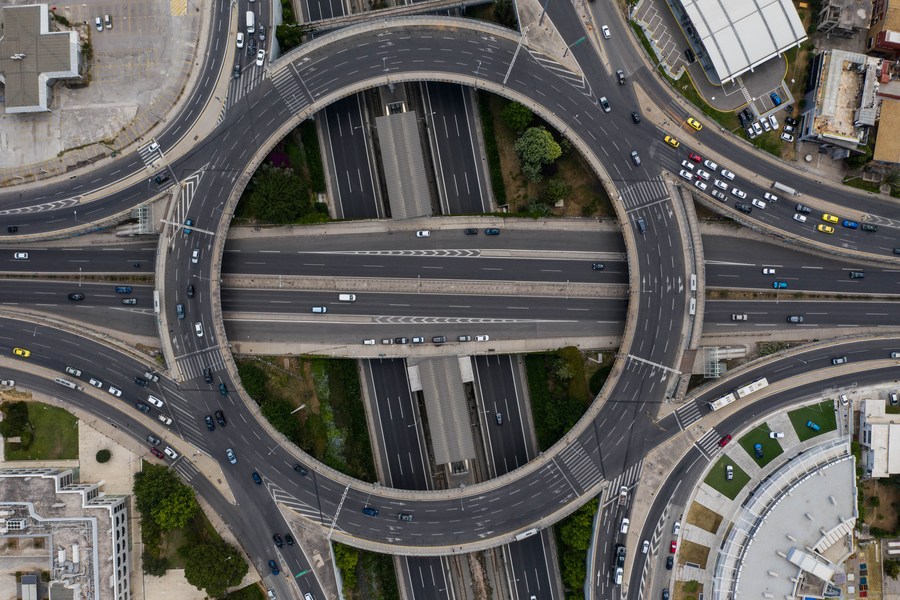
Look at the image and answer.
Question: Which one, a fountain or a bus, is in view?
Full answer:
It is a bus that can be seen here.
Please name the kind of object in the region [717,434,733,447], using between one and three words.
vehicle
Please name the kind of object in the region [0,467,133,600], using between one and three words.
building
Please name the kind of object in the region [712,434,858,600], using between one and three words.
building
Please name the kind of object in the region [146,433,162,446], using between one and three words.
vehicle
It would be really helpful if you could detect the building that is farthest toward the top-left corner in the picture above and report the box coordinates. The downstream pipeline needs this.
[0,4,79,110]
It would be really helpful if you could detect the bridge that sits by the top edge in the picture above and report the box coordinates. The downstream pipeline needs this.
[294,0,482,34]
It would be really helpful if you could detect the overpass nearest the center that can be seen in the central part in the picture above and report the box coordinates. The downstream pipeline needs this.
[221,216,628,358]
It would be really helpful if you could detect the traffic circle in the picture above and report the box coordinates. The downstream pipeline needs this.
[156,17,692,555]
